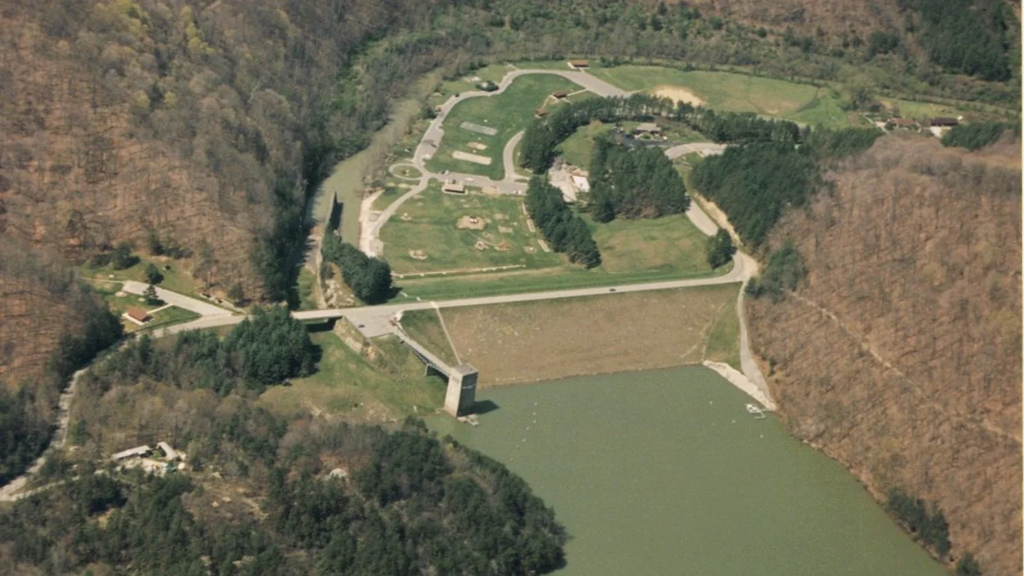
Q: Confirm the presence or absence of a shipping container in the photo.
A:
No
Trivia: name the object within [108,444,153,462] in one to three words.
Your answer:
shed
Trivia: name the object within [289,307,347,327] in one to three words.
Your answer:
bridge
